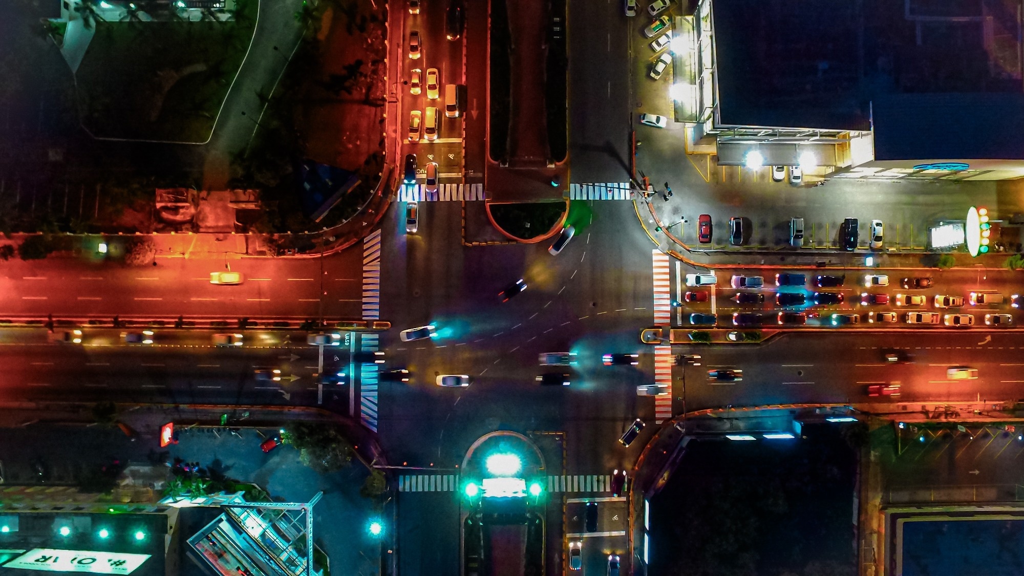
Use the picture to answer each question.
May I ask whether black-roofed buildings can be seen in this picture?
Yes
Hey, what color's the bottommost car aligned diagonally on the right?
black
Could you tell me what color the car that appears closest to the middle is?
black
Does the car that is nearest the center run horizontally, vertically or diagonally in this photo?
diagonally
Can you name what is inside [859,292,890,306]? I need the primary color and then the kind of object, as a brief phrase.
red vehicle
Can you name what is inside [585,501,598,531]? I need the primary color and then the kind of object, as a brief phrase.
black vehicle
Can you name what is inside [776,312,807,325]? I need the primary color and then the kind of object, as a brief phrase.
red vehicle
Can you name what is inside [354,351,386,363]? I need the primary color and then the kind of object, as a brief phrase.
black vehicle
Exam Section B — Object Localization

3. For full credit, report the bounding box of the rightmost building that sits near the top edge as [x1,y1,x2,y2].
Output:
[820,0,1024,185]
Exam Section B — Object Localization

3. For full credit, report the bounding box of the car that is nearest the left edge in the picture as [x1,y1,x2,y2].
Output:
[54,330,84,343]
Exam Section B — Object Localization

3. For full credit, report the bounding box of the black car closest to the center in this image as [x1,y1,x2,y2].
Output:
[498,279,527,302]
